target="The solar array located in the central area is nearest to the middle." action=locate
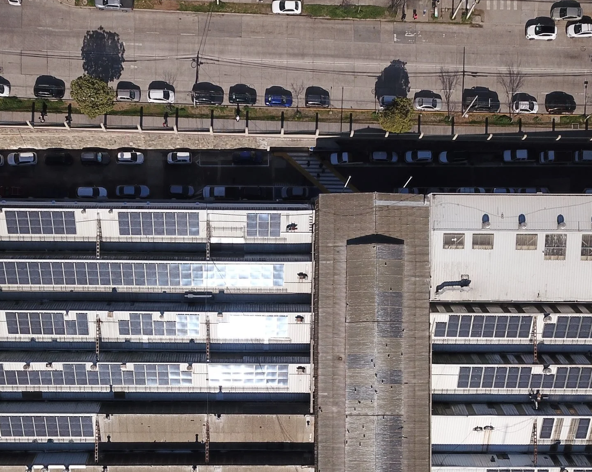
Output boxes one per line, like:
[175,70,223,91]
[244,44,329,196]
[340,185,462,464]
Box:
[246,214,281,238]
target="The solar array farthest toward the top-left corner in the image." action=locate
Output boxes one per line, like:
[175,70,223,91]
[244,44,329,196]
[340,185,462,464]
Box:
[5,212,77,237]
